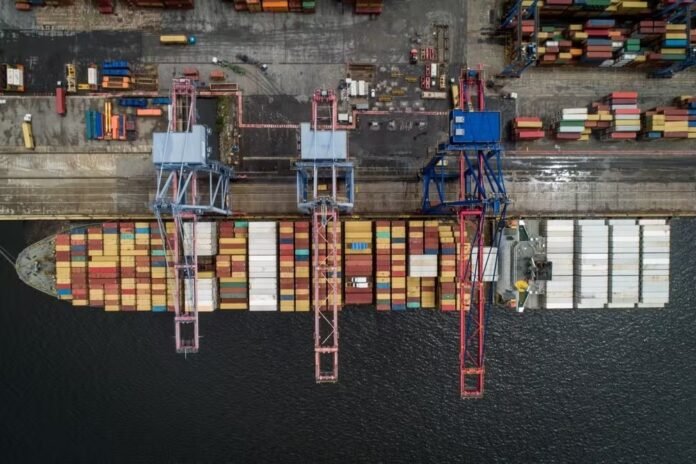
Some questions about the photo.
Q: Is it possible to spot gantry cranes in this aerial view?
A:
Yes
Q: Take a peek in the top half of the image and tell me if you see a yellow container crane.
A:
No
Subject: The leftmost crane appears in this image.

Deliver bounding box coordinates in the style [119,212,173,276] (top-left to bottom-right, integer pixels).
[150,76,253,358]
